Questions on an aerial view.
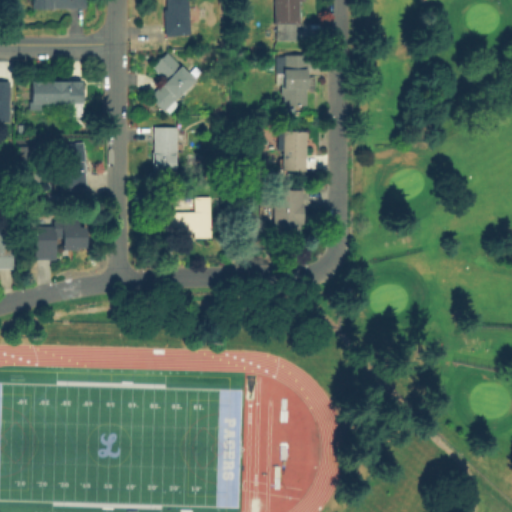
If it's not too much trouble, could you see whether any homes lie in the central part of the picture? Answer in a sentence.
Yes, a home shows up in the central part of the picture.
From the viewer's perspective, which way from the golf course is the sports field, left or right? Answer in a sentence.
To the left of the golf course is where the sports field appears.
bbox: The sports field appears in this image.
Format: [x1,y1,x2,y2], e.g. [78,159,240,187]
[0,367,244,512]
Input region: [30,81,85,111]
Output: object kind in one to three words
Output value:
house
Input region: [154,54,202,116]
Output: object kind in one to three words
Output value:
house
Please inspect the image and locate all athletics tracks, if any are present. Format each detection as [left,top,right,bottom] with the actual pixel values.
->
[0,345,344,512]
